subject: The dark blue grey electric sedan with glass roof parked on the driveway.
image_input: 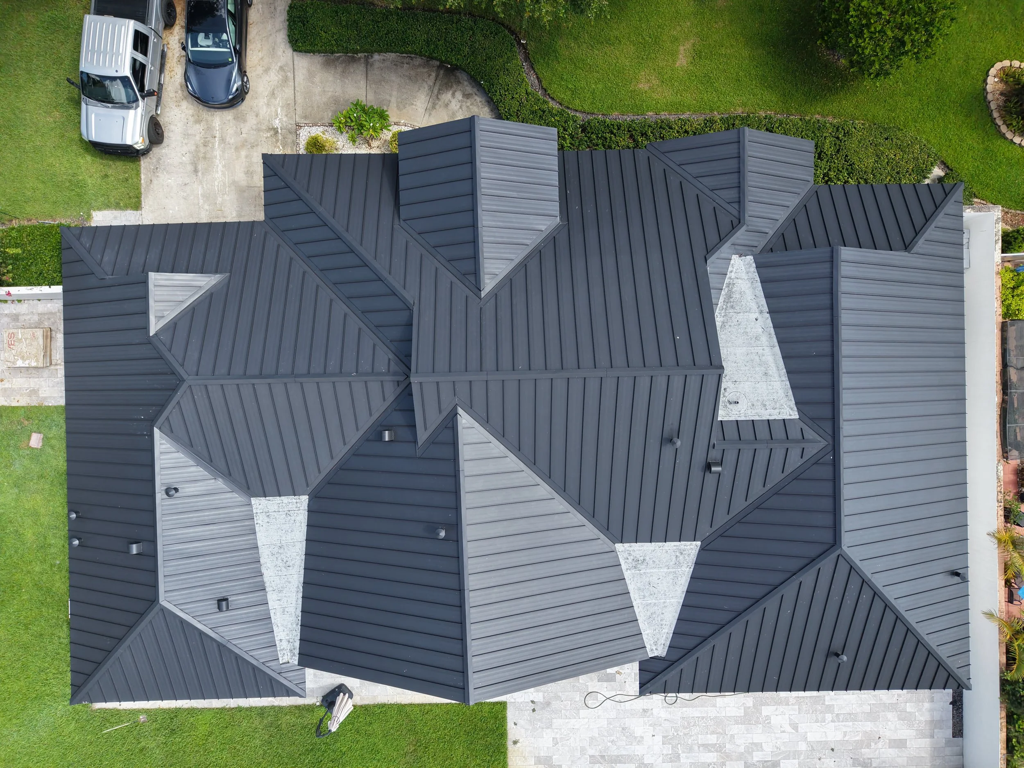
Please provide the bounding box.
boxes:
[177,0,259,110]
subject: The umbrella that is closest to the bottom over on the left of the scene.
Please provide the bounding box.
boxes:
[315,685,354,739]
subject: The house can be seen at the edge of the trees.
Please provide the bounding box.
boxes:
[59,114,974,706]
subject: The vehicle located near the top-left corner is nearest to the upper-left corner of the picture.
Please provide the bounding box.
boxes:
[67,0,176,158]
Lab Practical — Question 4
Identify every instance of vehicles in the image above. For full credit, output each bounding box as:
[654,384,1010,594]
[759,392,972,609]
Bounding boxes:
[177,0,259,110]
[67,0,176,158]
